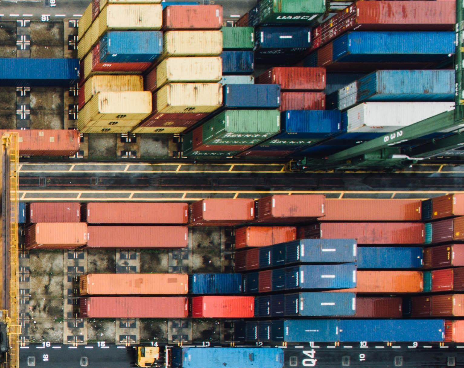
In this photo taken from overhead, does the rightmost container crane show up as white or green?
green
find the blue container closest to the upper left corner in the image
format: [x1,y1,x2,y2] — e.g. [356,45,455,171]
[0,58,80,86]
